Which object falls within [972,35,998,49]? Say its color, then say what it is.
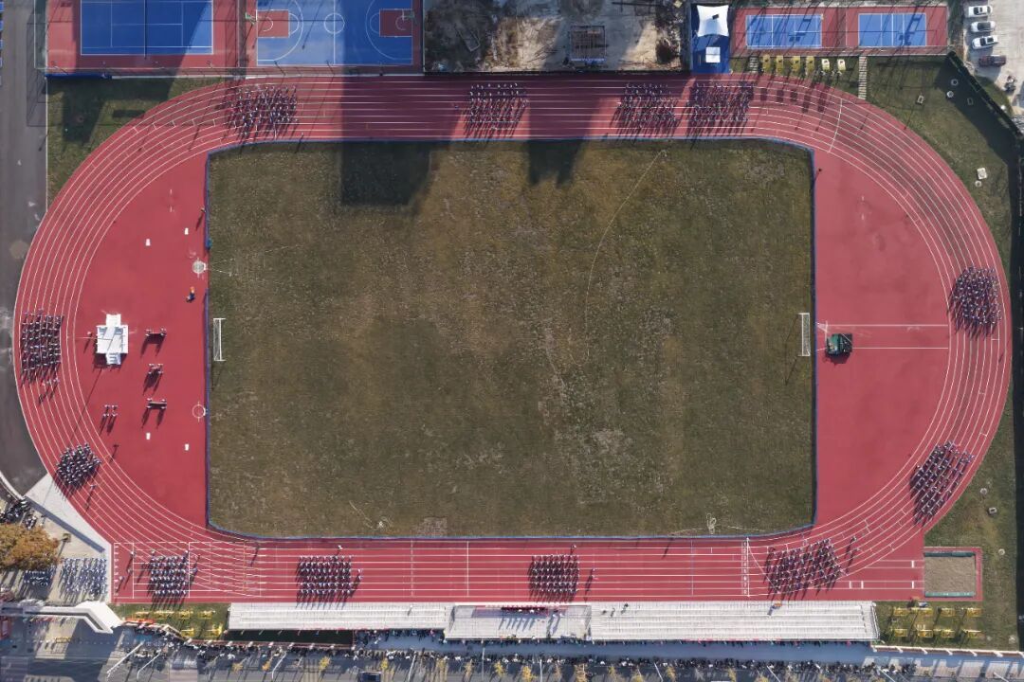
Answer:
white car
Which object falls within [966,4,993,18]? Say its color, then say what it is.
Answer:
white car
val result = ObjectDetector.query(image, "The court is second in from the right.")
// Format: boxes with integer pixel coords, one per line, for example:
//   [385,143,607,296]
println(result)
[733,4,846,54]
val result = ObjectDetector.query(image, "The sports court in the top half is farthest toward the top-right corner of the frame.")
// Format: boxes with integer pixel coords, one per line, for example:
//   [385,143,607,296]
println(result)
[846,4,948,54]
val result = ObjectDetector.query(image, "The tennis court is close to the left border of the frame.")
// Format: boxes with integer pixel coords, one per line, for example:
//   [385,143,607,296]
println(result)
[47,0,238,76]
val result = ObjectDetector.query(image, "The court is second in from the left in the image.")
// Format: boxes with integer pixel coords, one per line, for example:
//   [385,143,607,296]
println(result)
[246,0,422,76]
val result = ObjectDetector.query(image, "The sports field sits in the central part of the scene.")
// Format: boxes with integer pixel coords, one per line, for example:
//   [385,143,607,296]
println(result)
[207,142,814,538]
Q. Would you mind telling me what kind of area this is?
sports ground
